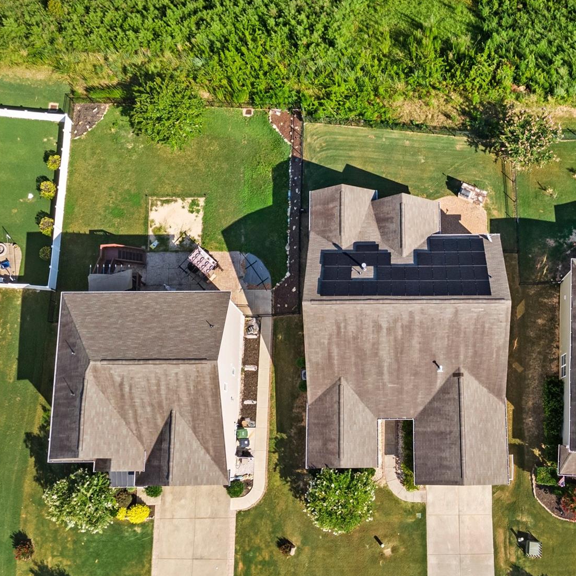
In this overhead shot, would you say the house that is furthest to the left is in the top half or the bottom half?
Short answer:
bottom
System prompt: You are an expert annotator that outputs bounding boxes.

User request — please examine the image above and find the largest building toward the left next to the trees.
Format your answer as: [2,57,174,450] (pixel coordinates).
[47,291,246,489]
